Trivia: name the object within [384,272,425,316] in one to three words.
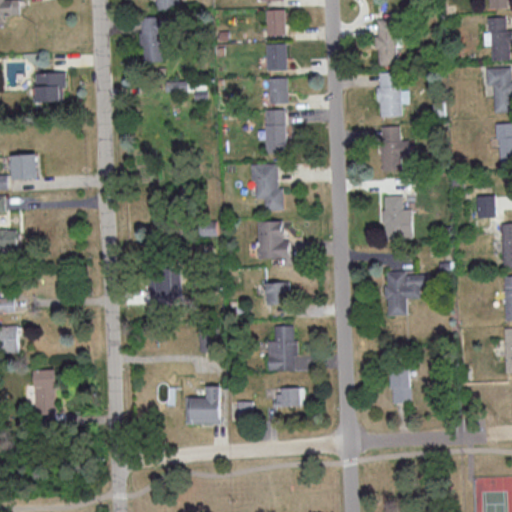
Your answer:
house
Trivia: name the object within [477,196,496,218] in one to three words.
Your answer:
house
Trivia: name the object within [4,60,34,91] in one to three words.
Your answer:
swimming pool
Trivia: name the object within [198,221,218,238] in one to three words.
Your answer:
shed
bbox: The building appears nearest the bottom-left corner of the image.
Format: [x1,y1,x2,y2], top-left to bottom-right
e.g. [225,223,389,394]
[32,369,58,415]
